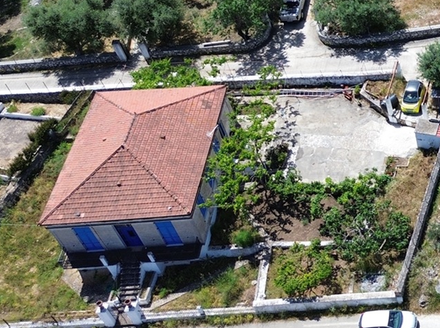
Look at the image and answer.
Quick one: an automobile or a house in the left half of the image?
house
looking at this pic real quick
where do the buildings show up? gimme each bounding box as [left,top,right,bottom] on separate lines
[38,83,231,320]
[415,117,440,155]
